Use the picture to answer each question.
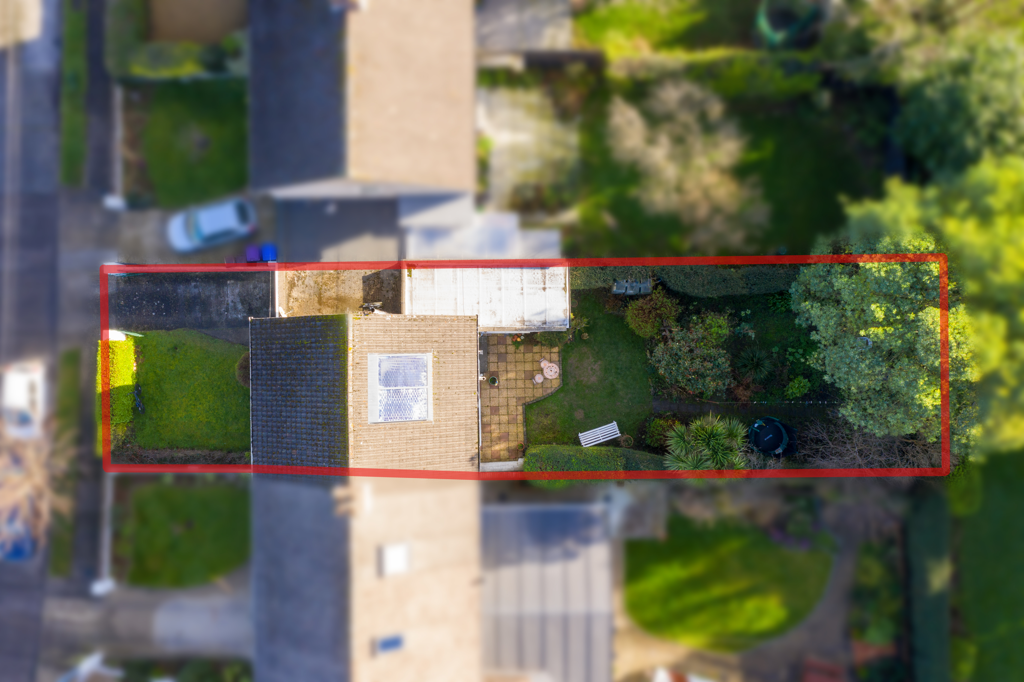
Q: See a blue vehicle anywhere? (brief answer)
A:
Yes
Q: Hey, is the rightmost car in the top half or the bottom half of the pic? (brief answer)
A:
top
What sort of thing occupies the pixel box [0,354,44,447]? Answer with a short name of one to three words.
van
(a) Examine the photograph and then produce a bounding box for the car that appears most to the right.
[164,199,254,249]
